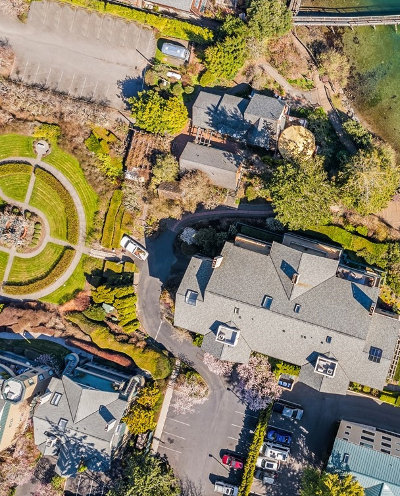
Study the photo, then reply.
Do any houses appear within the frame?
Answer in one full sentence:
Yes, there's a house here.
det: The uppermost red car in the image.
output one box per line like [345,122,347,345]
[220,453,246,469]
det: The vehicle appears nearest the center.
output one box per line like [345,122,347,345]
[118,237,153,261]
